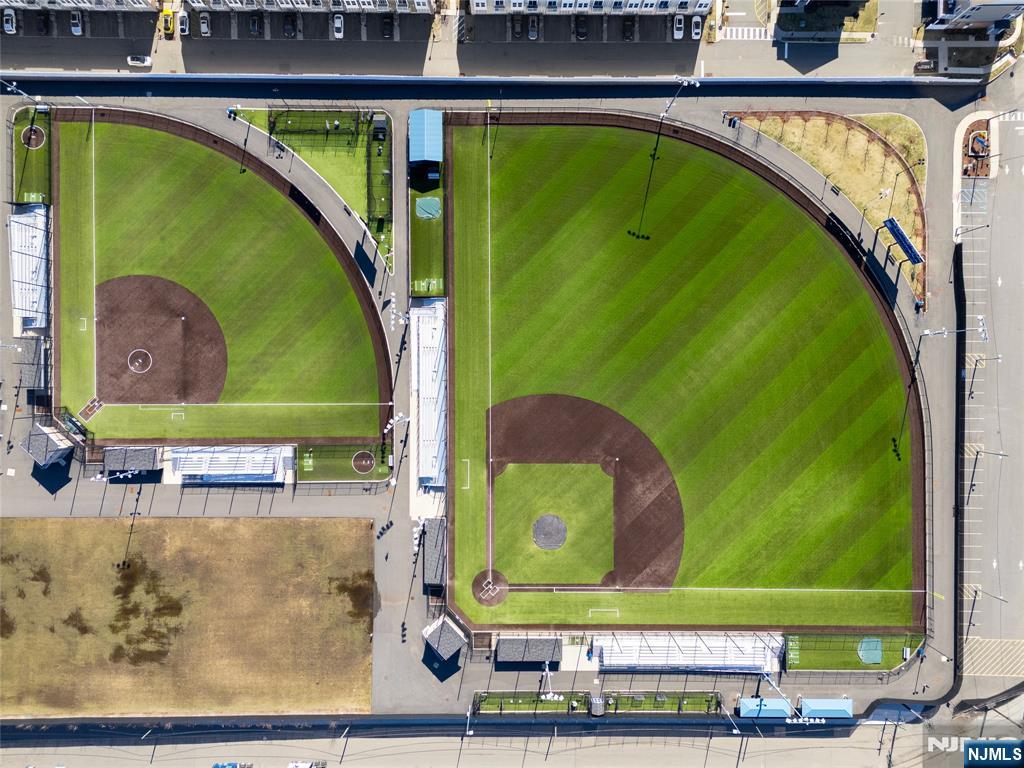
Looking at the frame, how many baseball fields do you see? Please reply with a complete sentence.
My tally gives 2 baseball fields in this view.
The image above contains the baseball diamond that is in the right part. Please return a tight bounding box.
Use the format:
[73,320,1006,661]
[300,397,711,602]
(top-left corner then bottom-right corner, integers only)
[447,108,926,631]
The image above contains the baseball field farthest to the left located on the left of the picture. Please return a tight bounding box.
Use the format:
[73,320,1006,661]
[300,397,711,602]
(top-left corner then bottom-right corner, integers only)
[52,107,392,446]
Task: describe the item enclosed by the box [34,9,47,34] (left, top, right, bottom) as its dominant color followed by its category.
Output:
black vehicle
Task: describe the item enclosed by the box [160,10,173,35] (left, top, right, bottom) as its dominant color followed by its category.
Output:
yellow vehicle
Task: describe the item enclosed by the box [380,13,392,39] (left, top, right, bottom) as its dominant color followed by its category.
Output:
black vehicle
